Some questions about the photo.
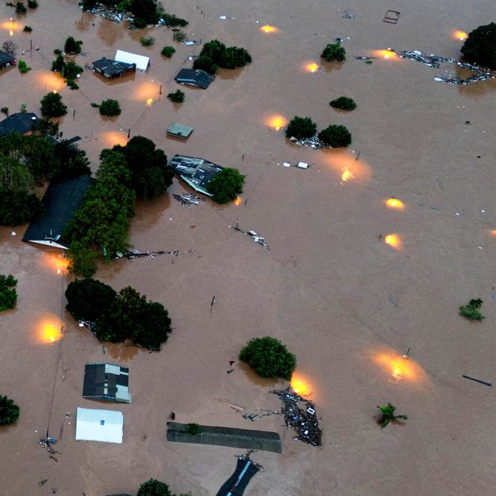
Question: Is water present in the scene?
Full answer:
Yes, some water is visible.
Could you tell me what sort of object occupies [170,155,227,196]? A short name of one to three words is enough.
house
